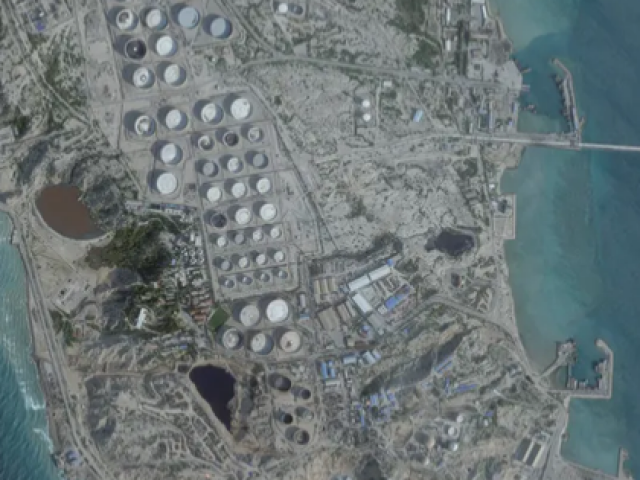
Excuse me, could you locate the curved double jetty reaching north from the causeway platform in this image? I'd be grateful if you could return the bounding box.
[552,57,584,133]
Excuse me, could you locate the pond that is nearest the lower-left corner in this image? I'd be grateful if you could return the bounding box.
[189,364,235,431]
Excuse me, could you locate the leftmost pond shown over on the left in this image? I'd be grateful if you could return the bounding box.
[36,184,104,240]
